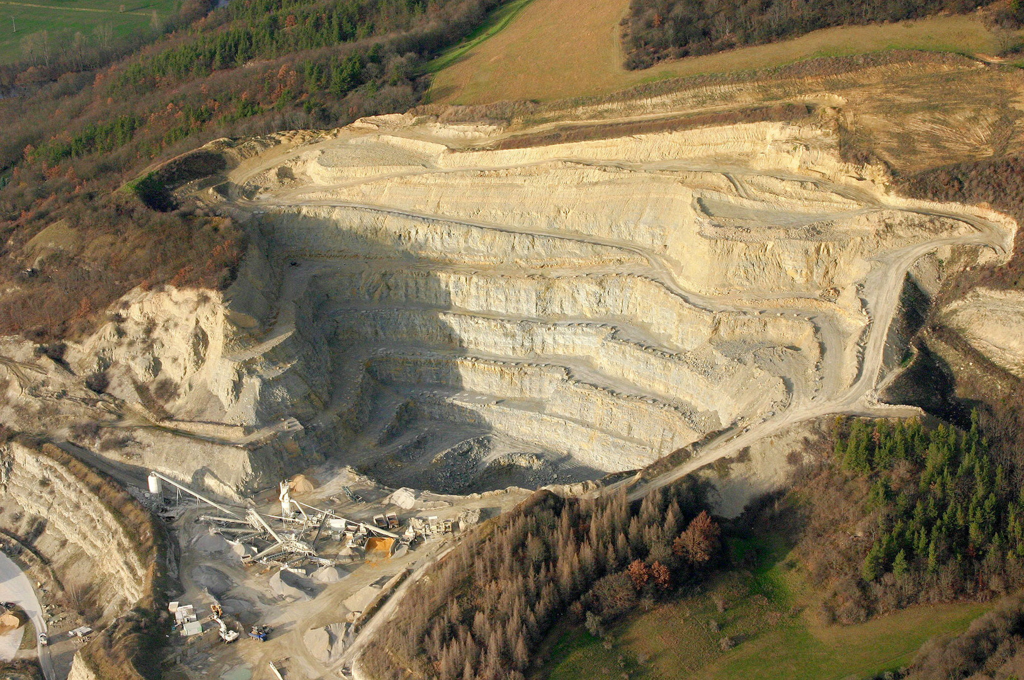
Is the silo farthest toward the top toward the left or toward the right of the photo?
left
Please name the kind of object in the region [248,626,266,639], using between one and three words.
vehicle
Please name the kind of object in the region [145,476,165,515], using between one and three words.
silo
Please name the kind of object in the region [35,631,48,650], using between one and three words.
vehicle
